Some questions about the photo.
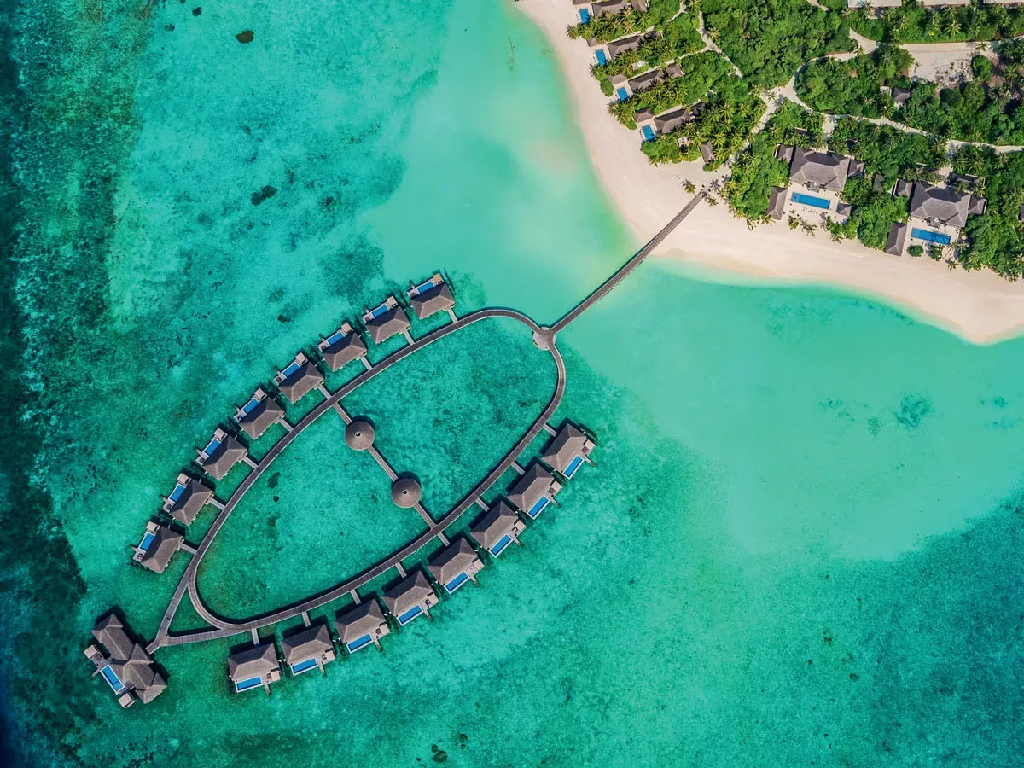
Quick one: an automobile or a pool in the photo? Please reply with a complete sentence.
The image shows a pool.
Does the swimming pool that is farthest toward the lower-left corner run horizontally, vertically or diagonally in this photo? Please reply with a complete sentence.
The swimming pool that is farthest toward the lower-left corner has been laid out diagonally relative to the frame.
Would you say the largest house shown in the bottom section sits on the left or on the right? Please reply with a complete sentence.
The largest house shown in the bottom section is on the left side of the image.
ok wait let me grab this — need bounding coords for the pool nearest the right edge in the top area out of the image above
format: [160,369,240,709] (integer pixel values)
[910,225,952,244]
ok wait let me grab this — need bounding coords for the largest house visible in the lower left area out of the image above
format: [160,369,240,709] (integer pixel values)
[84,612,168,707]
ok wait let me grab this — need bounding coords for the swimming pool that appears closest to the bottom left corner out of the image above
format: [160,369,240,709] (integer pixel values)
[101,664,126,693]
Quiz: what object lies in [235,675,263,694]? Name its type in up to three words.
swimming pool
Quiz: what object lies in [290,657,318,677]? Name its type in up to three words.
swimming pool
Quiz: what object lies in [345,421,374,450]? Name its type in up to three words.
building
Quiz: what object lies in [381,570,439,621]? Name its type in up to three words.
house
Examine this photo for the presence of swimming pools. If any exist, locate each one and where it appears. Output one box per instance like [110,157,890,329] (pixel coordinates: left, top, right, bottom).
[443,570,469,595]
[616,86,630,101]
[487,533,511,558]
[290,657,318,677]
[560,454,582,479]
[205,438,223,457]
[101,664,126,693]
[235,675,263,694]
[346,632,373,654]
[579,8,590,24]
[328,332,347,347]
[243,398,263,416]
[642,124,655,141]
[283,362,303,379]
[525,495,548,520]
[417,282,436,296]
[395,603,422,627]
[910,225,952,244]
[595,49,607,66]
[140,531,158,552]
[171,482,189,502]
[790,191,831,210]
[371,305,391,320]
